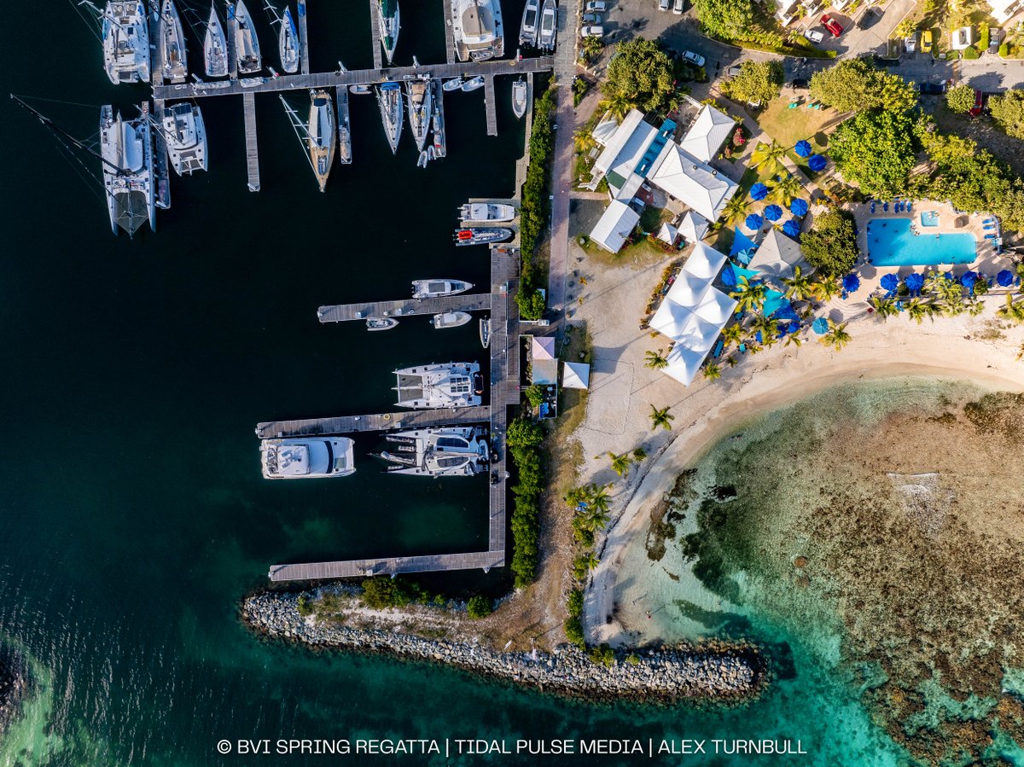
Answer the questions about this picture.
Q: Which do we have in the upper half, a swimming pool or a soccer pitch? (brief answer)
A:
swimming pool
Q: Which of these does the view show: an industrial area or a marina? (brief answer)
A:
marina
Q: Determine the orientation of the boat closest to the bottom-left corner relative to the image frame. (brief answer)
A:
from side to side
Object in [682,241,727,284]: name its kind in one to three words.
tent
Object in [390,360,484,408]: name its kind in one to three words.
boat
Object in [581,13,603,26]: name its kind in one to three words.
vehicle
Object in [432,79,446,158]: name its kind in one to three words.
pier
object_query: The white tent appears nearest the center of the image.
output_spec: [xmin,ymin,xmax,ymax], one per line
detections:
[563,362,590,389]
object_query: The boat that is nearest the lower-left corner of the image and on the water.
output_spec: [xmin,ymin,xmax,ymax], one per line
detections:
[260,437,356,480]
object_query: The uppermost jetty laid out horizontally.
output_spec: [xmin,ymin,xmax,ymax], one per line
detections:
[153,50,555,100]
